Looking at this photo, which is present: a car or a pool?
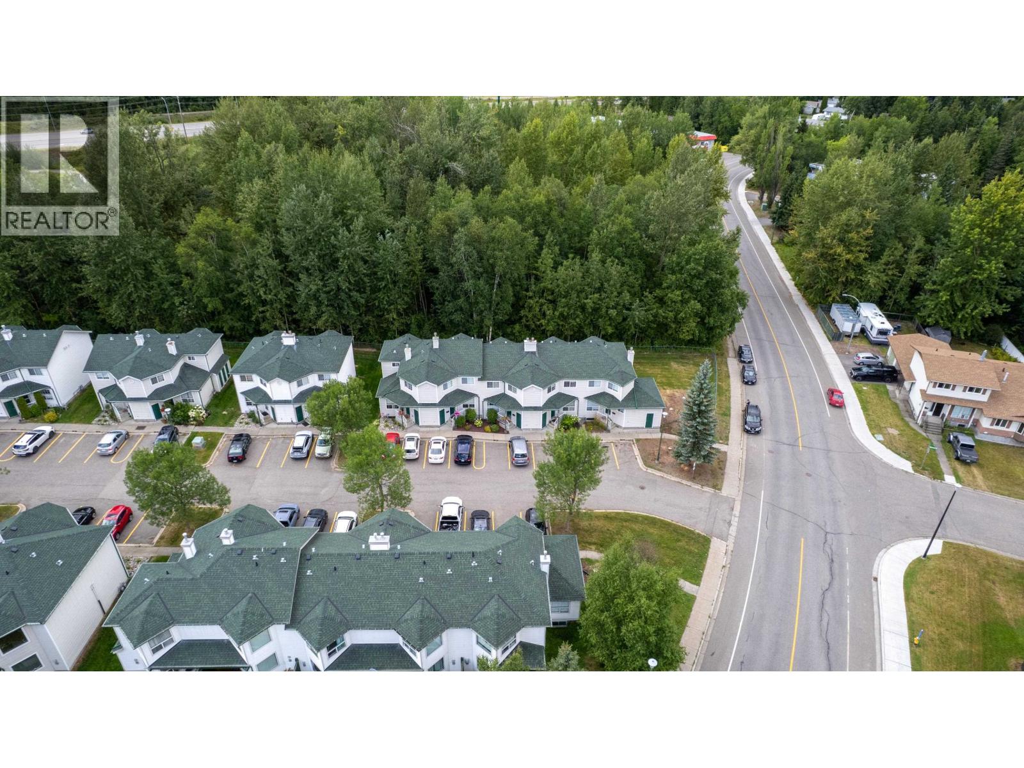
car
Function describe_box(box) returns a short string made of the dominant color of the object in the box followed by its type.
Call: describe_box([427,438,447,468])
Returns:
white car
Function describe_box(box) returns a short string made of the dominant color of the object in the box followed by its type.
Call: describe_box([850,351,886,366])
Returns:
gray car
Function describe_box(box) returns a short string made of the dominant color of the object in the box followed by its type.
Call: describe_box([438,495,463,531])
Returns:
white truck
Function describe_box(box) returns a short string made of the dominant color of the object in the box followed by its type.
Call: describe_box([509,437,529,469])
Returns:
gray vehicle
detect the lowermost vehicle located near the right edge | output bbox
[938,432,989,468]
